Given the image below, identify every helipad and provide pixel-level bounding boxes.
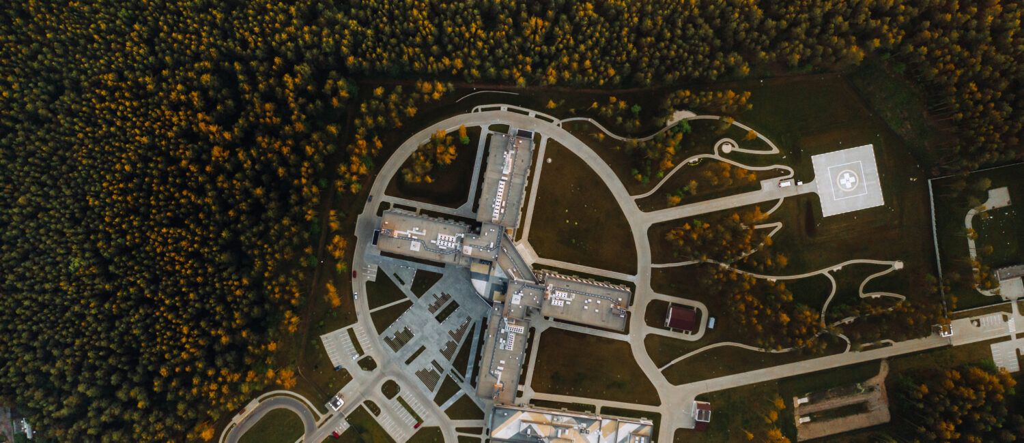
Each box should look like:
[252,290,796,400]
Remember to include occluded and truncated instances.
[813,144,883,216]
